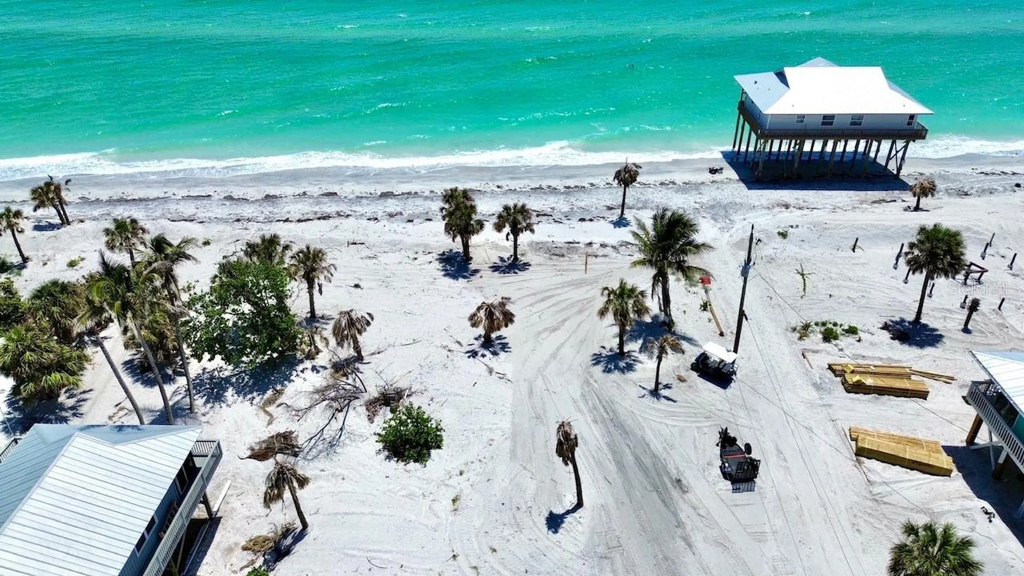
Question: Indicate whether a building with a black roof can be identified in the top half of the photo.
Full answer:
No, I see no building with a black roof in the top half of the photo.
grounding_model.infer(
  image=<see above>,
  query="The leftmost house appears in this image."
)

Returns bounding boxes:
[0,422,227,576]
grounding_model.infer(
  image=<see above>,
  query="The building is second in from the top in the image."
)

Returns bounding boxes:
[951,349,1024,482]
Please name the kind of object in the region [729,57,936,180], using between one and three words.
house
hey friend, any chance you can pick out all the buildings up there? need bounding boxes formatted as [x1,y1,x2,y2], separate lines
[951,349,1024,482]
[729,57,936,180]
[0,422,227,576]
